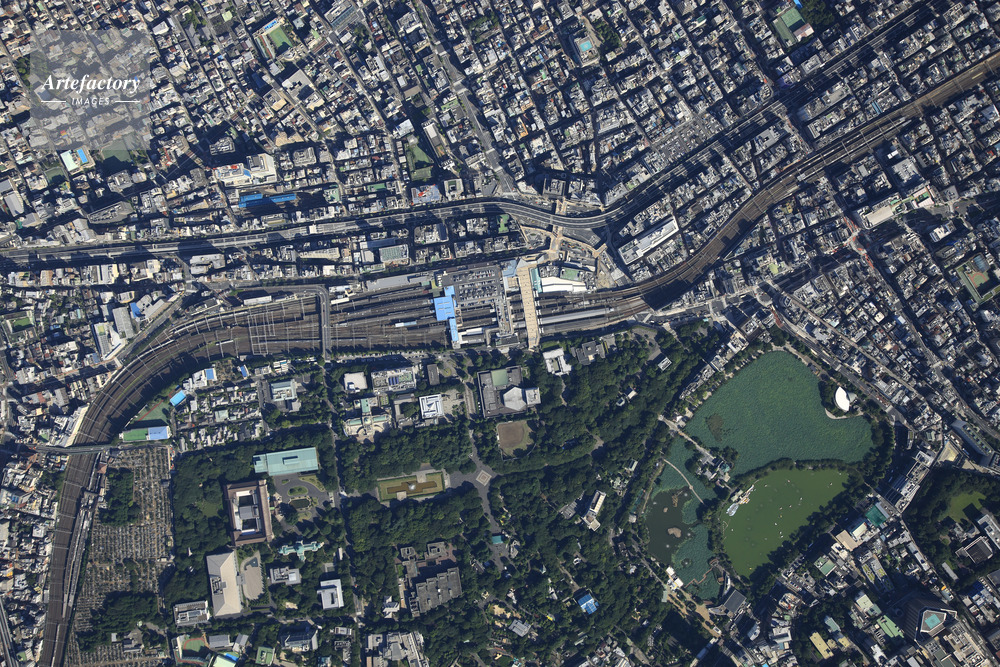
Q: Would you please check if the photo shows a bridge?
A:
Yes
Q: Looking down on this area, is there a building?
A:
Yes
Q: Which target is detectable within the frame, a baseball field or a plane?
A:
baseball field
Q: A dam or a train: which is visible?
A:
train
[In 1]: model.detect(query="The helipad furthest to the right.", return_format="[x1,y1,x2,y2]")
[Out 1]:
[925,614,940,628]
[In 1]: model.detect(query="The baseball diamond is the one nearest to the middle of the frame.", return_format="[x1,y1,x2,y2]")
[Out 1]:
[497,420,539,460]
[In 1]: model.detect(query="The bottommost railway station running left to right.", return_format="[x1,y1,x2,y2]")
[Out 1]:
[268,253,613,350]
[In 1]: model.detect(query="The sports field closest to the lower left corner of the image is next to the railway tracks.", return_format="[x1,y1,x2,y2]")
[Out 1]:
[121,400,174,433]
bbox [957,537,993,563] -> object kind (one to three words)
house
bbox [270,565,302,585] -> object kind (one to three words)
building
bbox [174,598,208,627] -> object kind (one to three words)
building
